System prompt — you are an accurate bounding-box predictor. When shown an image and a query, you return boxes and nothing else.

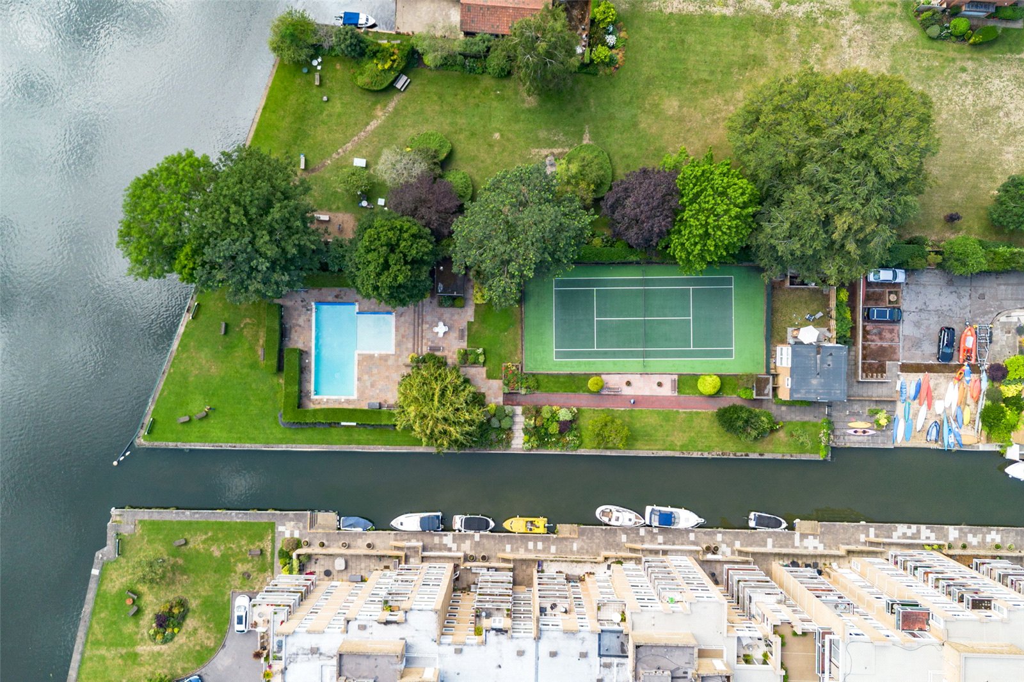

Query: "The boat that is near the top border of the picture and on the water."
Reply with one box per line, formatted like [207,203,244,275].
[332,9,376,26]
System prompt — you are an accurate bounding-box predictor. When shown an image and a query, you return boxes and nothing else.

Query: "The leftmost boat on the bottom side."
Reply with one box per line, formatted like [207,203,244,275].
[339,514,373,531]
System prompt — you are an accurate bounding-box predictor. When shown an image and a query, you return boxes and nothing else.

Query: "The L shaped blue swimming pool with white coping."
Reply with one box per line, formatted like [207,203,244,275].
[306,301,396,401]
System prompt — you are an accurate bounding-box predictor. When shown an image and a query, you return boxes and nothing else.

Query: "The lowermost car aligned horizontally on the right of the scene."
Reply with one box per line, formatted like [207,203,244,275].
[866,306,903,322]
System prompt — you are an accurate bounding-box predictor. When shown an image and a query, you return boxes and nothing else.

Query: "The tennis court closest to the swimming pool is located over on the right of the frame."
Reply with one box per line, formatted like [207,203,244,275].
[525,264,766,374]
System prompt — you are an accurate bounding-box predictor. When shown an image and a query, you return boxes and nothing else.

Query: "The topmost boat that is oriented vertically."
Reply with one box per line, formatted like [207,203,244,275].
[960,324,978,366]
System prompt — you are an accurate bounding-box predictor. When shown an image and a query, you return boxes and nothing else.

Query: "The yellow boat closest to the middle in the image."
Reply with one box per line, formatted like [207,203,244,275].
[503,517,551,534]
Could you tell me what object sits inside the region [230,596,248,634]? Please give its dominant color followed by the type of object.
white car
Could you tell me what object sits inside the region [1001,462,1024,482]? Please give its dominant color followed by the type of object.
white boat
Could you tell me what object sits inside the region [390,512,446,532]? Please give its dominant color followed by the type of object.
white boat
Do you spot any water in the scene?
Yes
